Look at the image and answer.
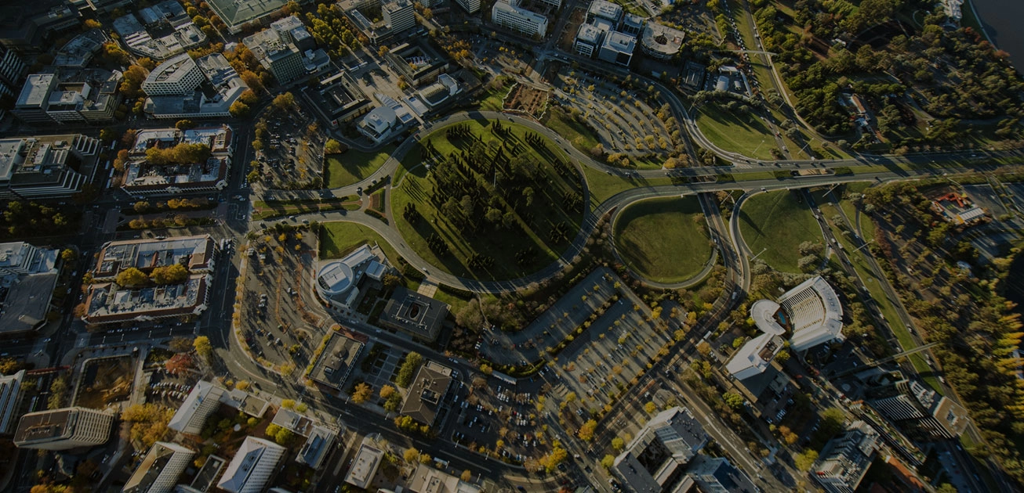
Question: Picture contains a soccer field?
No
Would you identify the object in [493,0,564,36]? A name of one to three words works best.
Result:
building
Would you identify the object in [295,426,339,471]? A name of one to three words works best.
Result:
building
